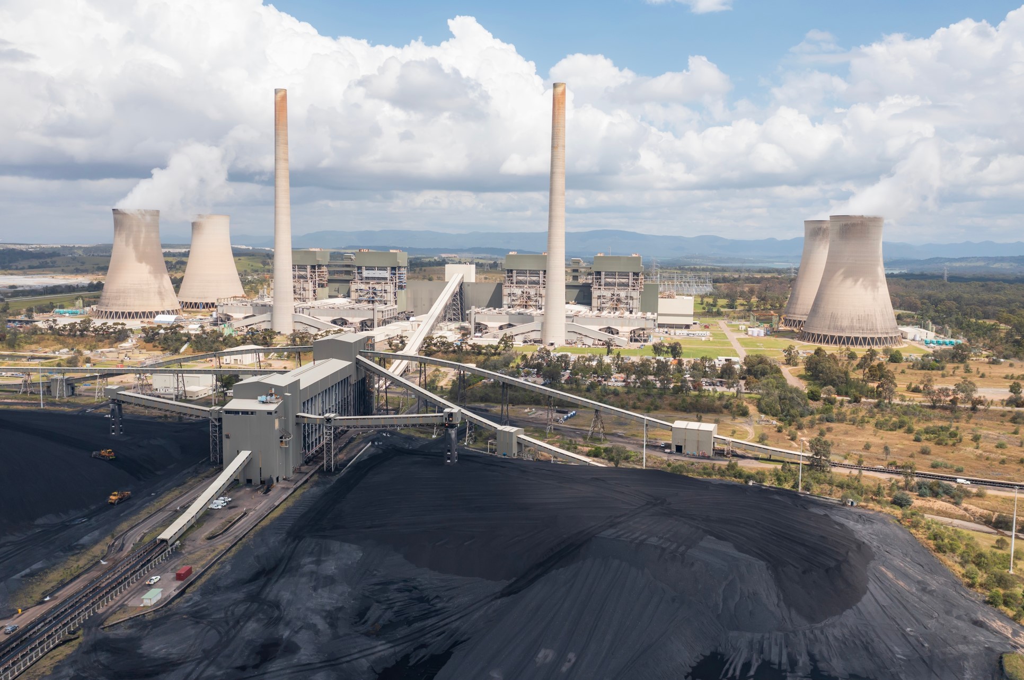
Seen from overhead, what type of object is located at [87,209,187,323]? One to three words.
cooling tower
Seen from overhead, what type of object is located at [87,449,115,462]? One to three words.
vehicle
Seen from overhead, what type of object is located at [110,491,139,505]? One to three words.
work vehicle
